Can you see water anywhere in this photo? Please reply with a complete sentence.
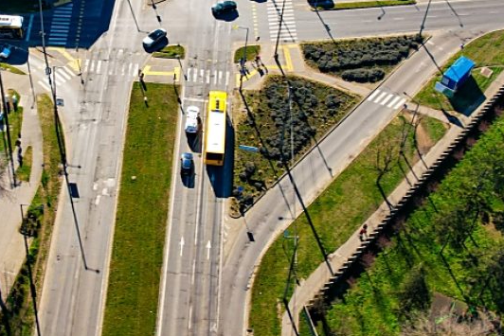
No, there is no water in the image.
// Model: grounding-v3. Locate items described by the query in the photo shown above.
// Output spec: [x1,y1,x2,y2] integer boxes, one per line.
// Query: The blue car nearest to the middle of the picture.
[180,153,195,177]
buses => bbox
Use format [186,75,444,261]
[0,14,25,38]
[201,93,228,168]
